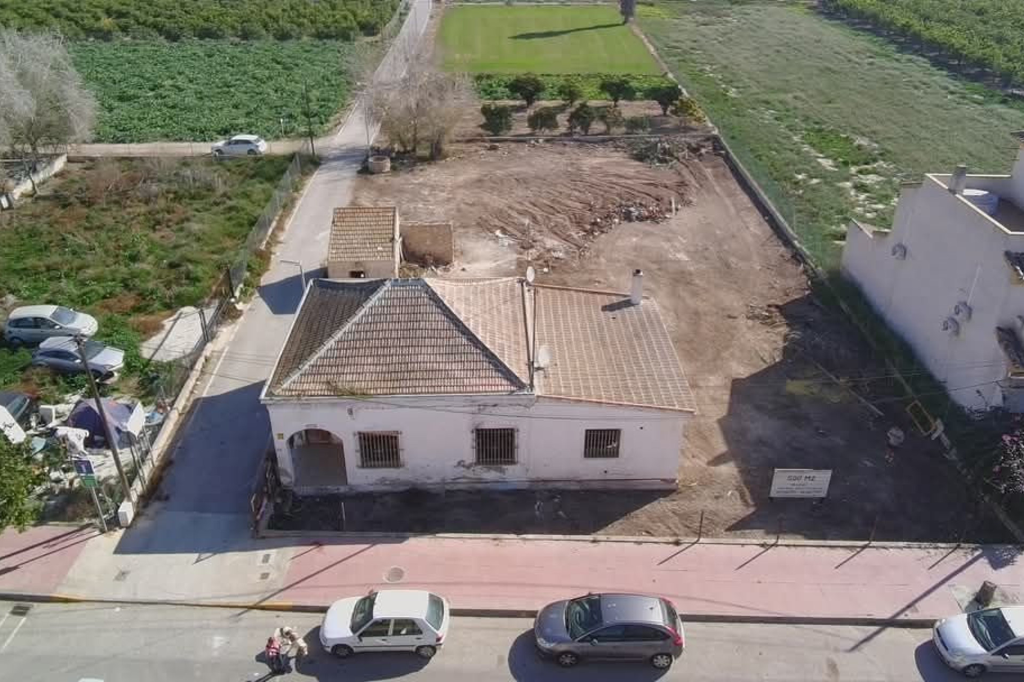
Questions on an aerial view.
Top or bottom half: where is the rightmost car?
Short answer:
bottom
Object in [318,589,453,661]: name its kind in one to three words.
car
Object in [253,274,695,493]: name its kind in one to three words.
house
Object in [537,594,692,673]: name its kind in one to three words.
car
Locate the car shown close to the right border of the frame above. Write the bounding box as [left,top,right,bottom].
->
[920,597,1024,673]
